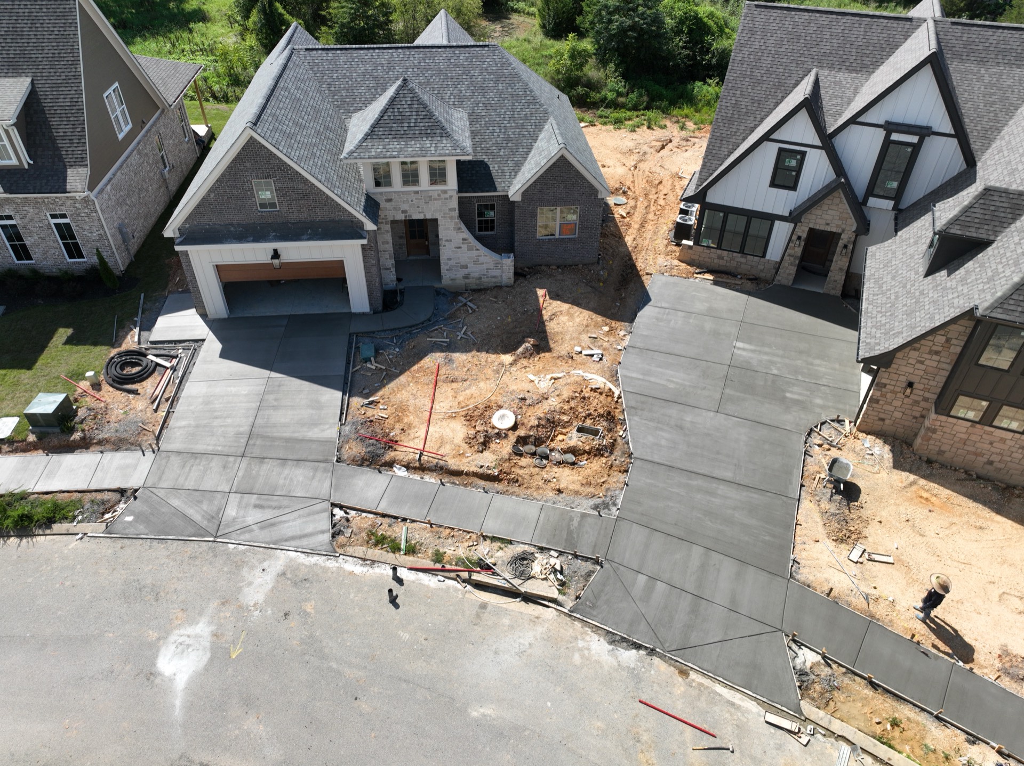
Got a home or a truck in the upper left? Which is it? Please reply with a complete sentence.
It is a home that can be seen in the upper left.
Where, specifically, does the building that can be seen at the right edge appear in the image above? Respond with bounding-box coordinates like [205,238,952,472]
[670,0,1024,486]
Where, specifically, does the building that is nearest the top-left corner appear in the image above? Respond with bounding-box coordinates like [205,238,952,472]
[0,0,218,280]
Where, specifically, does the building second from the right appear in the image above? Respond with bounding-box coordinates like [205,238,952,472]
[162,7,612,321]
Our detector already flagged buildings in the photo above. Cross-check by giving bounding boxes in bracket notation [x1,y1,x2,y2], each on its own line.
[0,0,218,280]
[670,0,1024,486]
[162,7,612,321]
